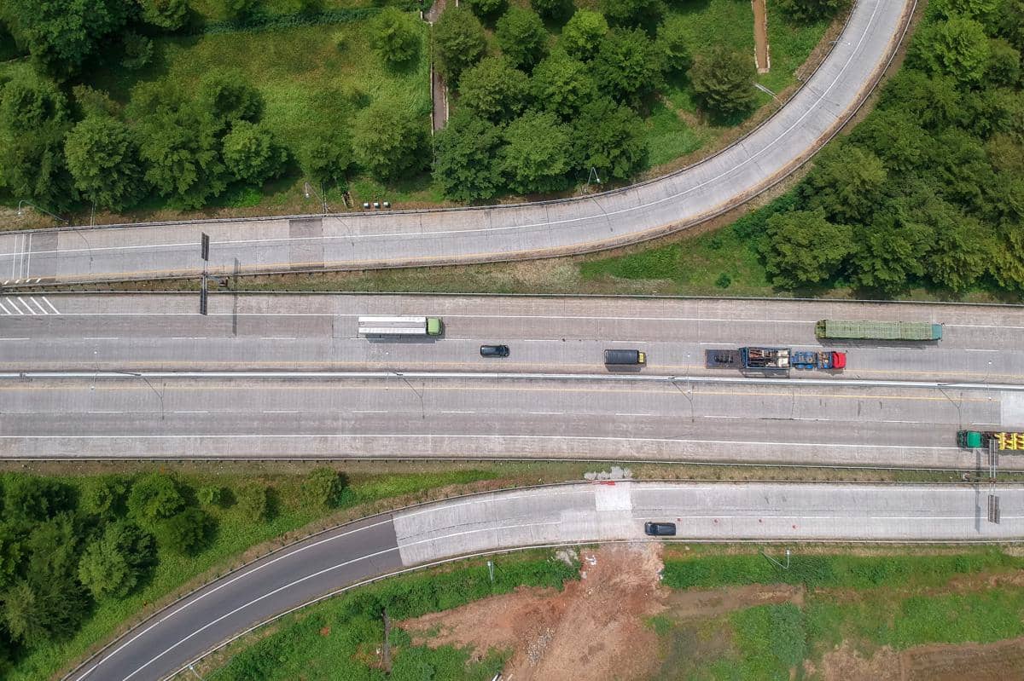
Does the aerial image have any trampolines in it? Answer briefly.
No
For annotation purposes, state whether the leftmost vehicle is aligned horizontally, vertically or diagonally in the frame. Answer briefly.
horizontally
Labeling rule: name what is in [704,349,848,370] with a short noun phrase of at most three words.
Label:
truck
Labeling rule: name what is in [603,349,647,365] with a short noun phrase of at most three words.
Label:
vehicle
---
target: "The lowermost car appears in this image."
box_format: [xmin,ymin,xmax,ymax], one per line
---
[644,522,677,538]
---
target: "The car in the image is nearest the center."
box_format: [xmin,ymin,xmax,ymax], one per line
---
[479,345,509,357]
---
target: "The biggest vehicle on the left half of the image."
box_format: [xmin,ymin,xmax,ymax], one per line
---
[358,317,444,337]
